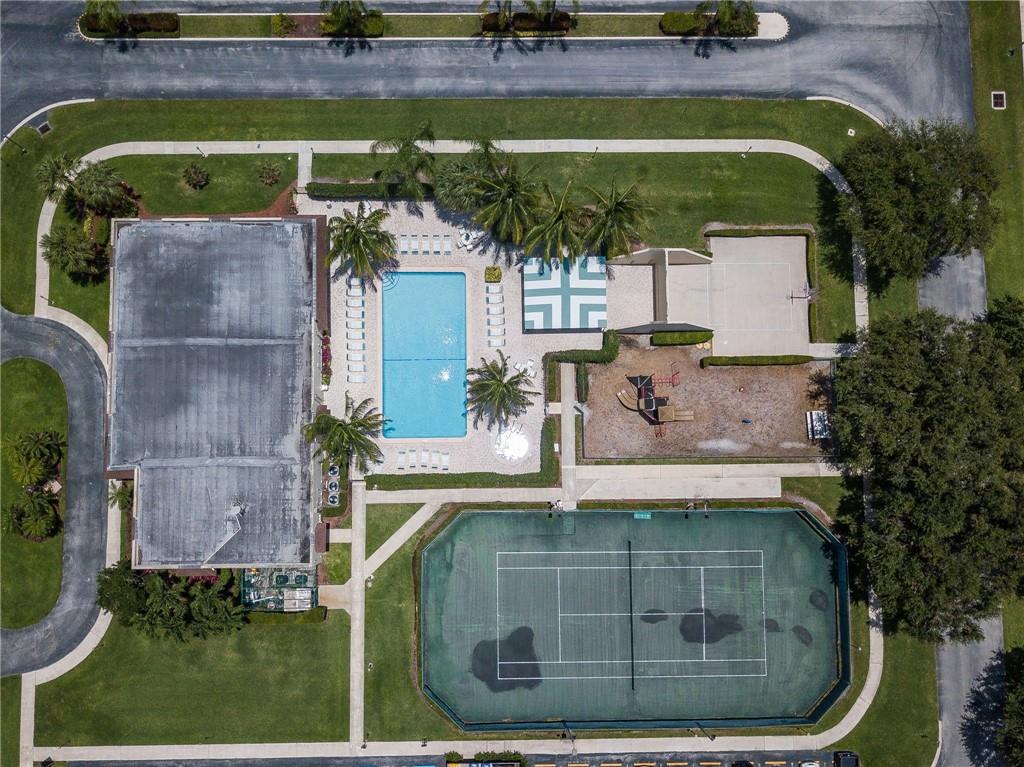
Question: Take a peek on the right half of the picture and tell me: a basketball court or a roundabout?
basketball court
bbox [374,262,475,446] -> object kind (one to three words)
swimming pool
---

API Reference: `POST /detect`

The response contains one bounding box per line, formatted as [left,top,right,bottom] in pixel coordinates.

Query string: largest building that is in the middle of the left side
[104,215,330,576]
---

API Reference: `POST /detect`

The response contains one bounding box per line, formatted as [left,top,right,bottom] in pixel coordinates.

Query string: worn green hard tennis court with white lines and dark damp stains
[425,507,840,718]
